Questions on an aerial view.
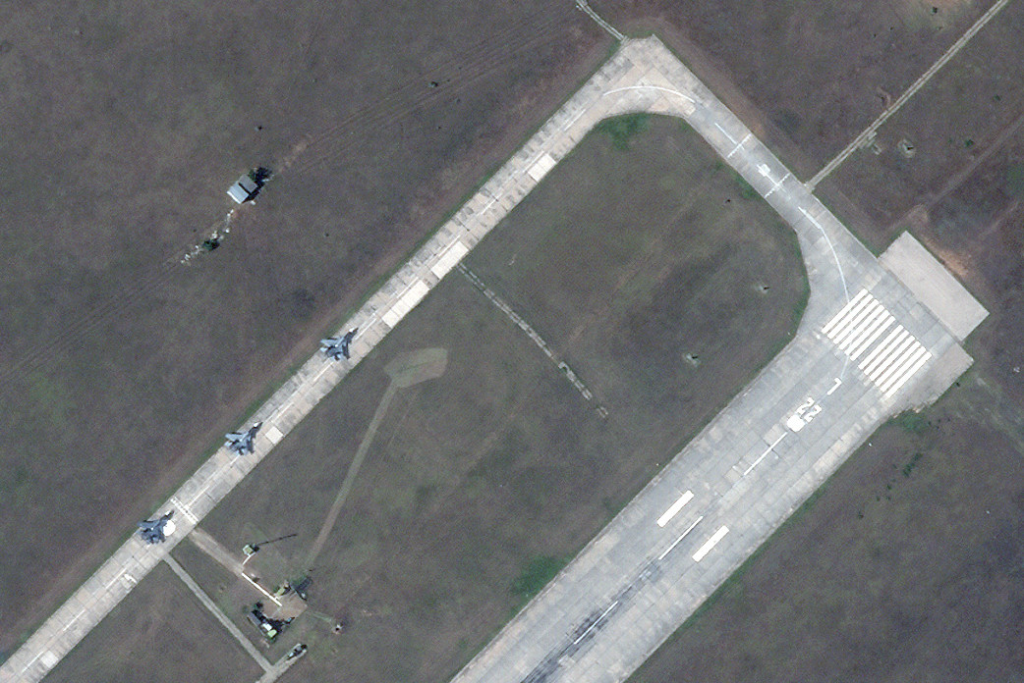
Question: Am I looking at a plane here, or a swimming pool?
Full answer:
The image shows a plane.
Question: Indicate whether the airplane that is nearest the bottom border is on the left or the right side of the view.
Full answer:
It is on the left.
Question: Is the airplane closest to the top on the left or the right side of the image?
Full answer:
The airplane closest to the top appears in the left half of the scene.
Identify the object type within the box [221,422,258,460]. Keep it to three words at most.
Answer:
airplane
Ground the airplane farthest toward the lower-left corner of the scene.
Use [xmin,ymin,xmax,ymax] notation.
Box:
[135,511,169,547]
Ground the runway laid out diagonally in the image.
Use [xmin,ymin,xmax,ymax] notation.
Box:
[452,258,955,683]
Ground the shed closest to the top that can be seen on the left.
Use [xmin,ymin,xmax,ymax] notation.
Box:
[227,174,257,204]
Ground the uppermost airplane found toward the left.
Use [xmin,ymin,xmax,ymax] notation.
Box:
[318,327,354,364]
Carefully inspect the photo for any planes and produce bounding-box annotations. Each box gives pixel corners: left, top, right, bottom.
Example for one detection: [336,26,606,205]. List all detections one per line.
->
[221,422,258,460]
[318,327,354,364]
[135,511,169,547]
